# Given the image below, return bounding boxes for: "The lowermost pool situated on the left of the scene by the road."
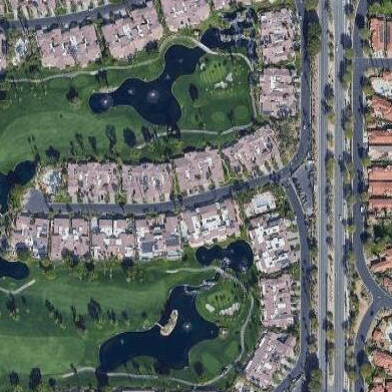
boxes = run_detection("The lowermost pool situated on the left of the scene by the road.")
[44,168,63,192]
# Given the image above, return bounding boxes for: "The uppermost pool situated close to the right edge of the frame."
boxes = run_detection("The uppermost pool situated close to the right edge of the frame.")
[370,76,391,97]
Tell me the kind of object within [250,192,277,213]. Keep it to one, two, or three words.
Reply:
swimming pool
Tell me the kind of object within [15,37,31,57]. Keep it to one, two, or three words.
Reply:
swimming pool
